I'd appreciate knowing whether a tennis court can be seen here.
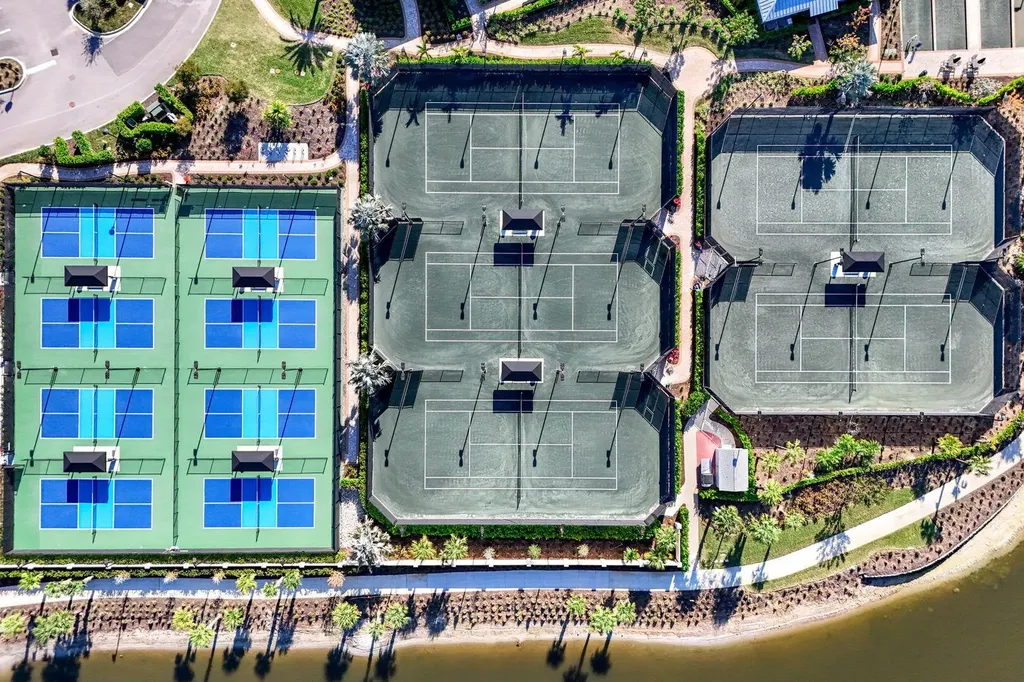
Yes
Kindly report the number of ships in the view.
zero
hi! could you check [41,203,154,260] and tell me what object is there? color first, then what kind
blue sports court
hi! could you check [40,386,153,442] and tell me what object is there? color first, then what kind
blue sports court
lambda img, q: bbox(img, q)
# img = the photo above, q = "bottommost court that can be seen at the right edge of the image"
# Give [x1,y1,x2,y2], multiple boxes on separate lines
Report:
[706,265,1003,413]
